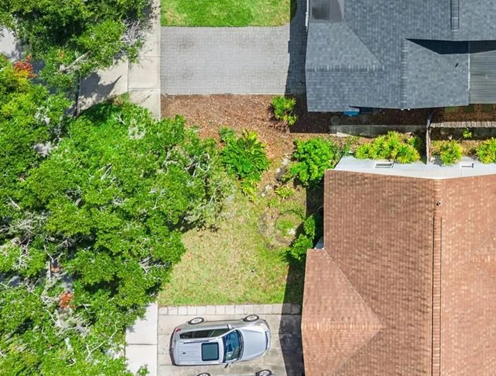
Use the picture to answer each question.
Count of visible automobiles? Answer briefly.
1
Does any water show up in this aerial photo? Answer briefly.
No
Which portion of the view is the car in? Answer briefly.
bottom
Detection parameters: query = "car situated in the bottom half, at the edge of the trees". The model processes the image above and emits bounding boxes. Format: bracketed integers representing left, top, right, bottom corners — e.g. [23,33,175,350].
[170,318,272,373]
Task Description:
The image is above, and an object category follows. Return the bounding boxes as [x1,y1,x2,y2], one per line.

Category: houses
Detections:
[297,157,496,376]
[302,0,496,112]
